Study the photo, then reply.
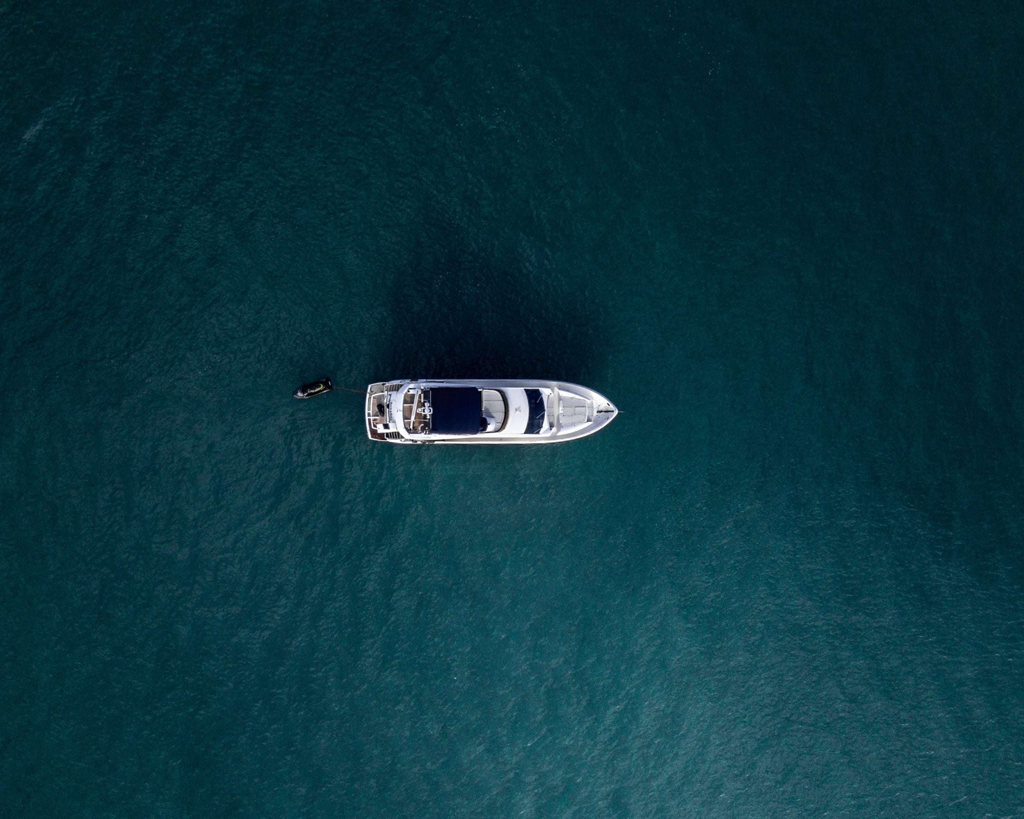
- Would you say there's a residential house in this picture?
No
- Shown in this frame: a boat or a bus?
boat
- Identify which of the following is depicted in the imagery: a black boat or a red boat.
black boat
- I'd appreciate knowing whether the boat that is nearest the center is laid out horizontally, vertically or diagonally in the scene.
horizontally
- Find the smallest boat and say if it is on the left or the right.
left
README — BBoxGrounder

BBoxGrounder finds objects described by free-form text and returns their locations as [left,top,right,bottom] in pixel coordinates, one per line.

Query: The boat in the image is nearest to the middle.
[365,379,626,444]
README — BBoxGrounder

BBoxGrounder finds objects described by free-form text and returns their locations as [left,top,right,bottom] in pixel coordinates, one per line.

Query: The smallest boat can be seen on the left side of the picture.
[292,378,331,398]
